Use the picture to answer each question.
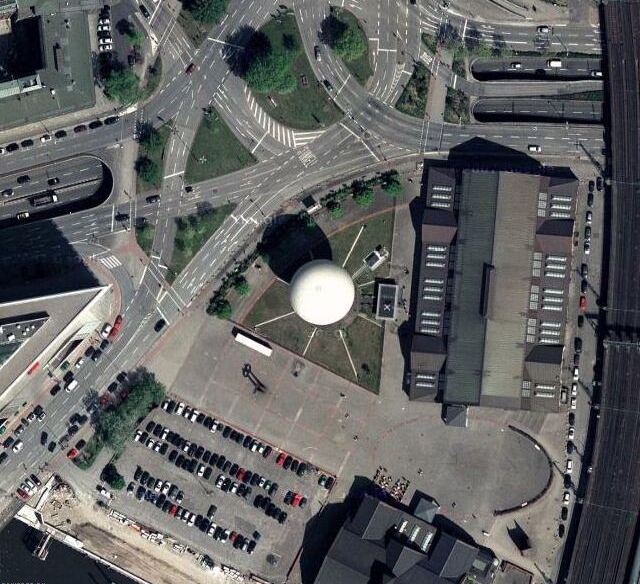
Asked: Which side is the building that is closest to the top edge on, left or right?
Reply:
left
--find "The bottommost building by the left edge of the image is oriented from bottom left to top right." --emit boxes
[0,285,119,416]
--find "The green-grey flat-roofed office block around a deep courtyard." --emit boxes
[0,0,101,134]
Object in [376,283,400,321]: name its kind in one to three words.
building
